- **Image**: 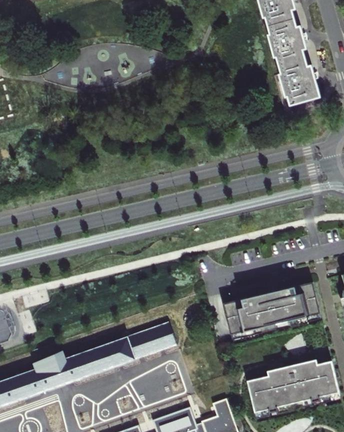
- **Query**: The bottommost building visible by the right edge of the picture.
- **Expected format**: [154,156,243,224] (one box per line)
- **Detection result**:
[248,359,340,418]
